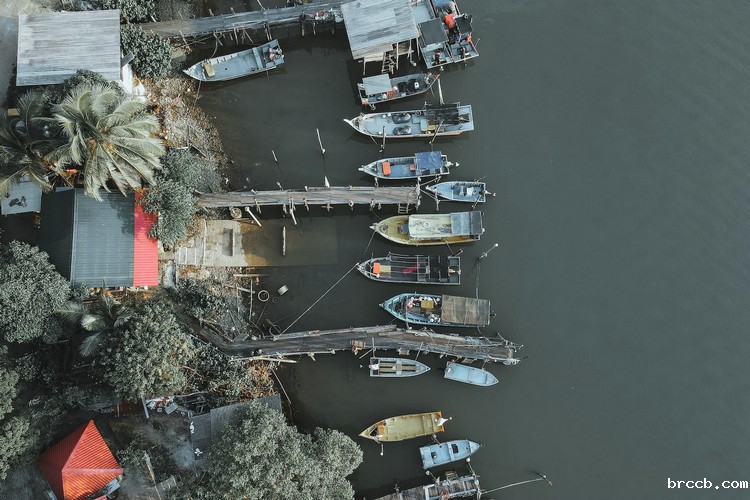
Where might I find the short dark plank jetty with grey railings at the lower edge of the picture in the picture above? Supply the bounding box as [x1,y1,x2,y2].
[366,470,478,500]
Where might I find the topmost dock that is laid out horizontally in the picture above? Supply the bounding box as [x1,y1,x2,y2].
[143,0,342,51]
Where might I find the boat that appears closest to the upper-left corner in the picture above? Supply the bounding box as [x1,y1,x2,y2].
[182,43,292,81]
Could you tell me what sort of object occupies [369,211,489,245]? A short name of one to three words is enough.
boat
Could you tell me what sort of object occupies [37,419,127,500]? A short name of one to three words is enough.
shed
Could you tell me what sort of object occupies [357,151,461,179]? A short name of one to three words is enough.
boat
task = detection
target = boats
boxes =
[361,357,431,378]
[369,211,489,245]
[182,43,292,81]
[423,0,478,72]
[379,293,498,327]
[420,438,483,469]
[352,72,438,107]
[437,361,498,386]
[357,255,469,283]
[406,0,453,78]
[357,151,461,179]
[360,411,454,440]
[341,102,479,137]
[424,181,497,201]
